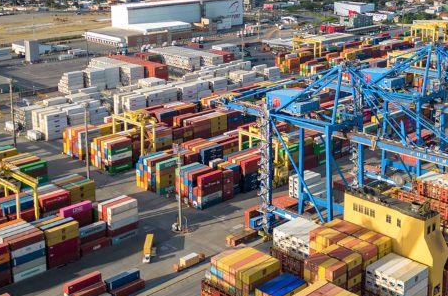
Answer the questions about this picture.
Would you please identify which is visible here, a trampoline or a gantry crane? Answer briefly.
gantry crane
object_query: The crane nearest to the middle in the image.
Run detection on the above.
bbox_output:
[226,123,284,169]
